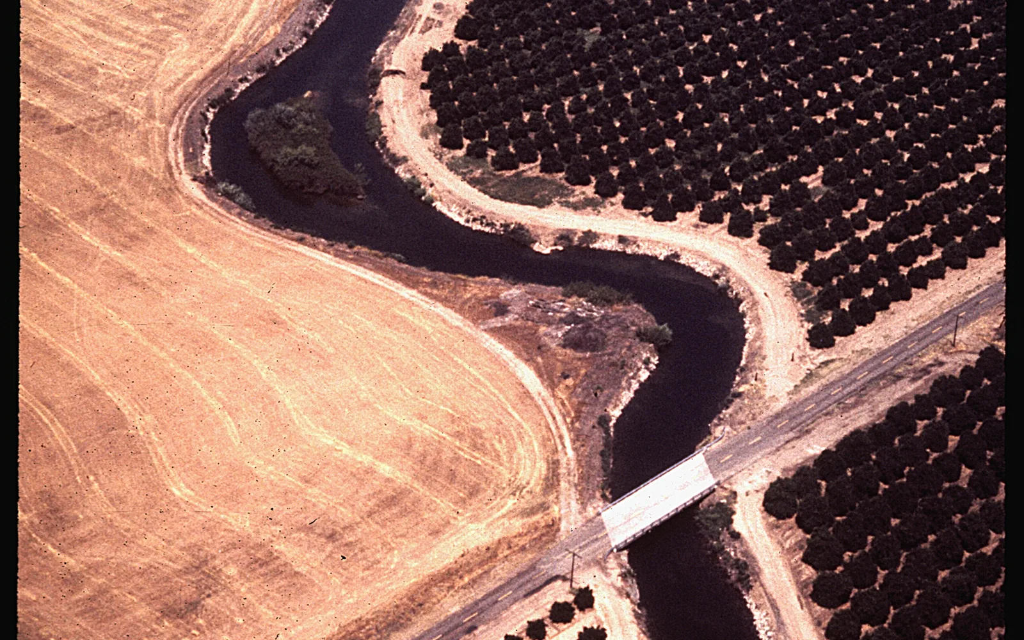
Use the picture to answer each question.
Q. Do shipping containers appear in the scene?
No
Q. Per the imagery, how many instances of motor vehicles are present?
0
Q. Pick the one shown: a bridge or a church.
bridge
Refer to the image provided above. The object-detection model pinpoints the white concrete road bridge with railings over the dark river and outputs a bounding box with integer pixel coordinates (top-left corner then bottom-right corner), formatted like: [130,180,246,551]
[601,450,717,553]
